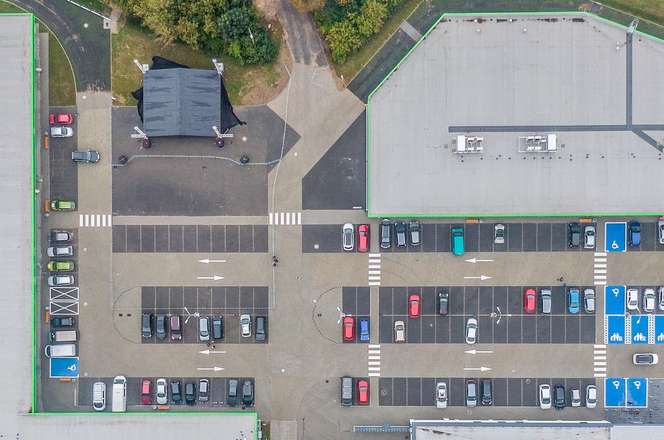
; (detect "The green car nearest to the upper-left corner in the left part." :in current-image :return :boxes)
[52,199,76,212]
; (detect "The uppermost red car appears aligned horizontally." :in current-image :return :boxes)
[50,113,74,125]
